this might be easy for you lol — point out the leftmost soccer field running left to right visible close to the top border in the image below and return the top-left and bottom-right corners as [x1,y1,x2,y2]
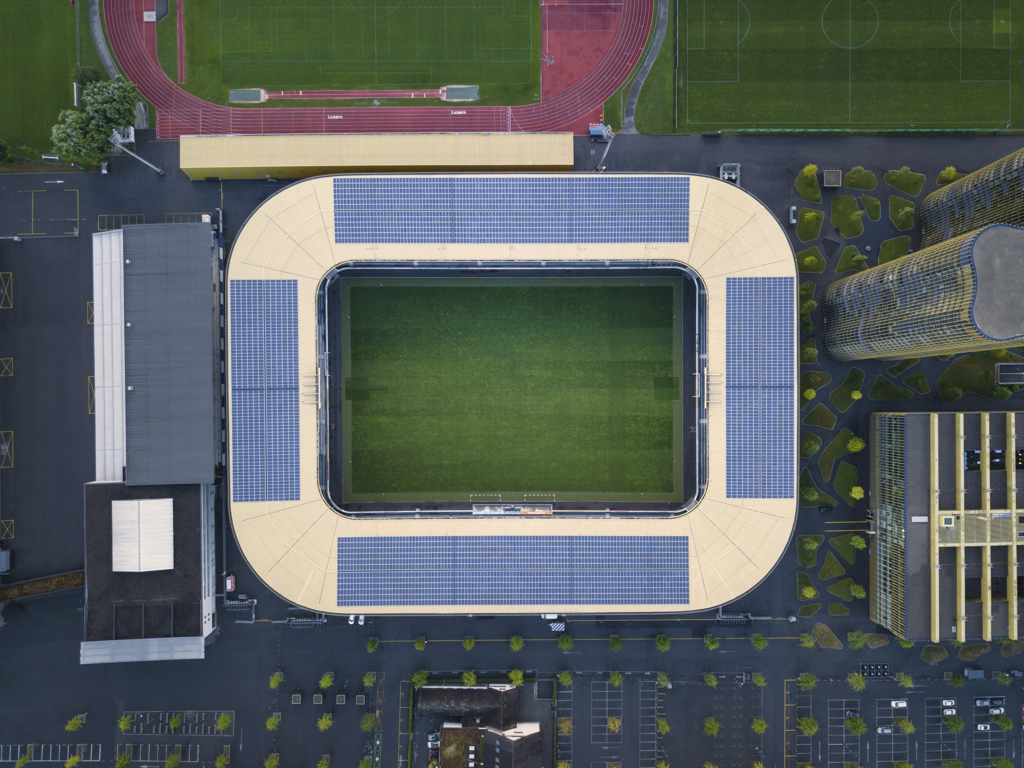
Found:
[156,0,541,108]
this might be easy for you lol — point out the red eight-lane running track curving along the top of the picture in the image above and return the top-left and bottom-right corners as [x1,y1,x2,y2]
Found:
[103,0,653,139]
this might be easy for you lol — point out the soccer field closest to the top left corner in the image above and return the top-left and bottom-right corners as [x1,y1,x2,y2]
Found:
[0,0,77,150]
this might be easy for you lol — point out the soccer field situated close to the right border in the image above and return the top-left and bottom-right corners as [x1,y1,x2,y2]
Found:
[677,0,1024,132]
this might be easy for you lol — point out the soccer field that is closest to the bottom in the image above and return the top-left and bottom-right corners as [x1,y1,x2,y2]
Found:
[341,277,683,503]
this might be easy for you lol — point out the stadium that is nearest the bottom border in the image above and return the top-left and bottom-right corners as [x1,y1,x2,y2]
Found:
[226,172,799,615]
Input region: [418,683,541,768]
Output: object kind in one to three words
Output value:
house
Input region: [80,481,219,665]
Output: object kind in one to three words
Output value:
building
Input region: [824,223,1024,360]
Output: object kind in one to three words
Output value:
building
